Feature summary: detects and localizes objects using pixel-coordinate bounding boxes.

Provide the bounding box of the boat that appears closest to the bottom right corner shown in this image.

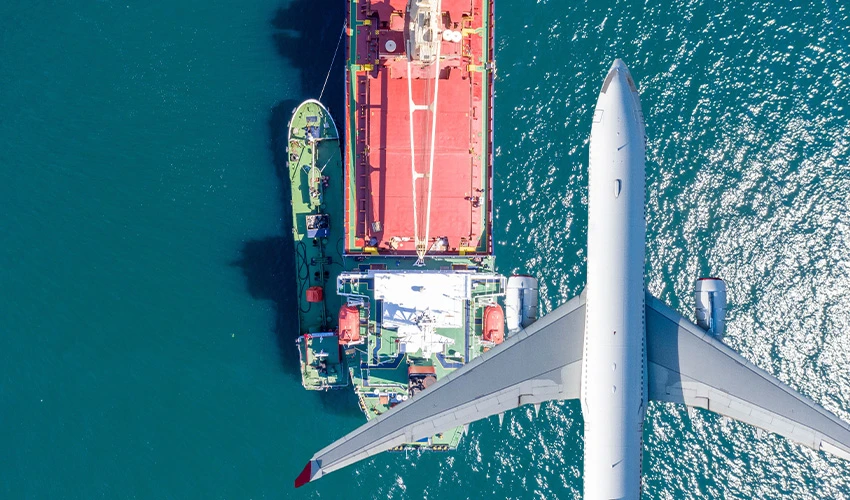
[483,305,504,345]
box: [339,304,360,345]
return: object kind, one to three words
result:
boat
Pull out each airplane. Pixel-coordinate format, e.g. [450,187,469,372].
[295,59,850,500]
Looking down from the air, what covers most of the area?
water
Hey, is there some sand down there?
No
